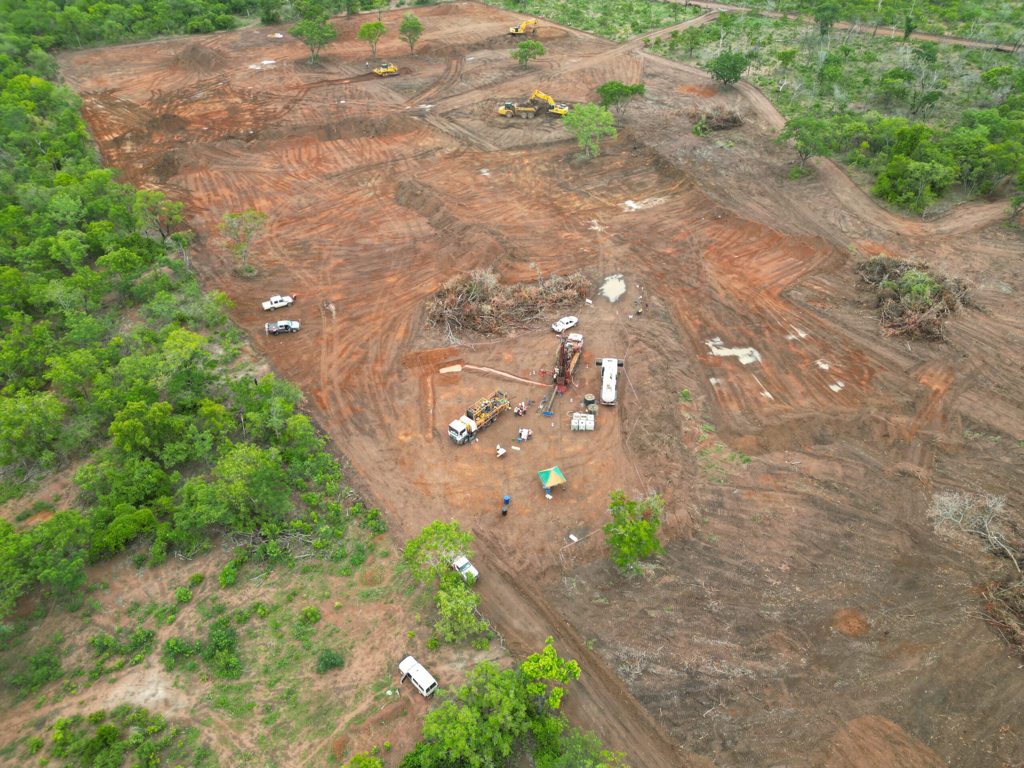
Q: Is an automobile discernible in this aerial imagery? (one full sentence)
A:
Yes, looking at the shot, I can spot an automobile.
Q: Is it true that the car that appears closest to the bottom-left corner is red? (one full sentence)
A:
No, the color of the car that appears closest to the bottom-left corner is white.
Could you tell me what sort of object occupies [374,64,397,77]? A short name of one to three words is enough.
vehicle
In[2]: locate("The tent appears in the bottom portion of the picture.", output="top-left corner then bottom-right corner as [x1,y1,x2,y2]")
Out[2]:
[537,466,566,496]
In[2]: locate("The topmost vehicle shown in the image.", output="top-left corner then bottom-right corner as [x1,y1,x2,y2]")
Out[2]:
[508,15,538,35]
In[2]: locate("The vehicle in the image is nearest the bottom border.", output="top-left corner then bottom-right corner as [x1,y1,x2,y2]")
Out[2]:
[394,653,437,701]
